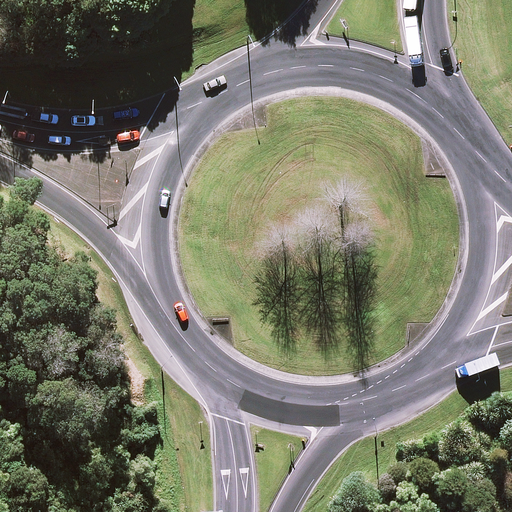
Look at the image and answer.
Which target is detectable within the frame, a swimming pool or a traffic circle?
traffic circle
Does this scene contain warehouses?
No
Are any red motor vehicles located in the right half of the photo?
No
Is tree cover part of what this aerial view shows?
Yes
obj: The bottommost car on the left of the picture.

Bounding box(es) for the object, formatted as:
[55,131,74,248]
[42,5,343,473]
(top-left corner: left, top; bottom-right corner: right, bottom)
[174,300,188,322]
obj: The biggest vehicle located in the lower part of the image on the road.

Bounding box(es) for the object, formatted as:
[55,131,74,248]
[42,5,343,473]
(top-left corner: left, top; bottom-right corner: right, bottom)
[456,352,500,380]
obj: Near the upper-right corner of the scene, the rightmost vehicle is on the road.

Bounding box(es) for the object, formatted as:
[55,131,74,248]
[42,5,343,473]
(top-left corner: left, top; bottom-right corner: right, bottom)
[440,47,454,74]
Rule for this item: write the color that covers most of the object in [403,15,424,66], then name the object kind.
white truck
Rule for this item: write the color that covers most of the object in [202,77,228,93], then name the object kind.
white car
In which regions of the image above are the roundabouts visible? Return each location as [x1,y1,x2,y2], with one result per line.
[134,46,507,421]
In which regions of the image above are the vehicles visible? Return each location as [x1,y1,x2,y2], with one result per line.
[72,115,96,126]
[404,0,418,12]
[48,135,71,146]
[38,112,61,124]
[456,352,500,380]
[12,130,35,142]
[403,15,424,66]
[202,77,228,93]
[440,47,454,74]
[160,188,170,209]
[116,130,140,142]
[174,300,188,322]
